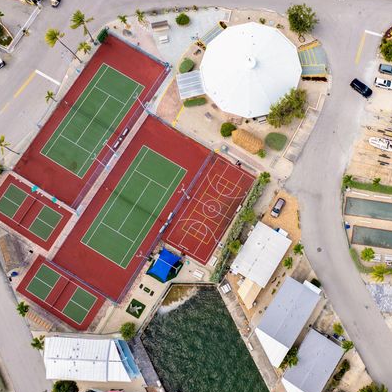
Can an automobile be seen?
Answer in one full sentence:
Yes, the image includes an automobile.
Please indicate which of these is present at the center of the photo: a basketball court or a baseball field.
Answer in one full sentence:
Looking at the center of the photo, you will find a basketball court.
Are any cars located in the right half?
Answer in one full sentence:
Yes, the scene does show a car in the right half.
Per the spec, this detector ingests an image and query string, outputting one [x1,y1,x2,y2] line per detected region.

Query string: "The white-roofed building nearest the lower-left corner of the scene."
[43,336,143,383]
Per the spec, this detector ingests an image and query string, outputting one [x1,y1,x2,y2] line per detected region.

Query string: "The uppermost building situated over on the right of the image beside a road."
[200,23,303,119]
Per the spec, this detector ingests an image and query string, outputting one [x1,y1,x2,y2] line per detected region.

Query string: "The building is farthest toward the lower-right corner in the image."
[283,327,343,392]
